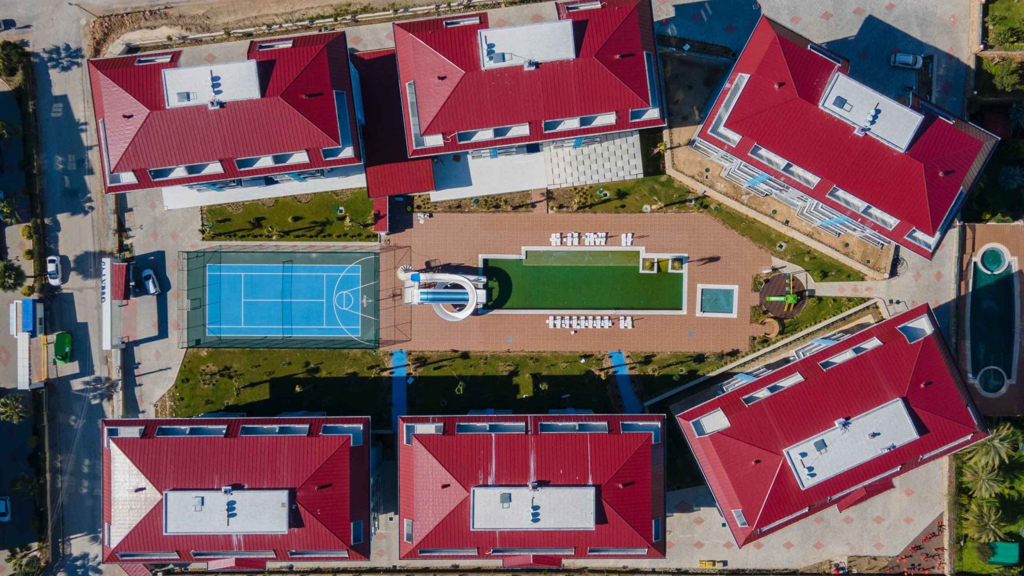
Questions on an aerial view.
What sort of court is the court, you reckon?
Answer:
tennis court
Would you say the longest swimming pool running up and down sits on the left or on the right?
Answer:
right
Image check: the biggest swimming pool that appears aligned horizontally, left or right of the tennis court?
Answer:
on the right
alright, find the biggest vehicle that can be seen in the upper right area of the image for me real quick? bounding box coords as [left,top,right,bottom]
[890,54,923,69]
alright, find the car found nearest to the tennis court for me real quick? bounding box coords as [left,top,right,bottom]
[142,267,161,297]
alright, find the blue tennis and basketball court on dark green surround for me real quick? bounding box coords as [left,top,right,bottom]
[188,252,379,348]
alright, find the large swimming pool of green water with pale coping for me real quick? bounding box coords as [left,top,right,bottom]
[478,247,688,314]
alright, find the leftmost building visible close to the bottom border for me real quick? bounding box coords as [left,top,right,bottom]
[100,410,382,570]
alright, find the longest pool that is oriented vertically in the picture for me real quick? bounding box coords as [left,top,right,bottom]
[966,242,1021,399]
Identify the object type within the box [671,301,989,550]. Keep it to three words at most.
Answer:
building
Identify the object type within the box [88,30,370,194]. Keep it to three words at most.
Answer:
building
